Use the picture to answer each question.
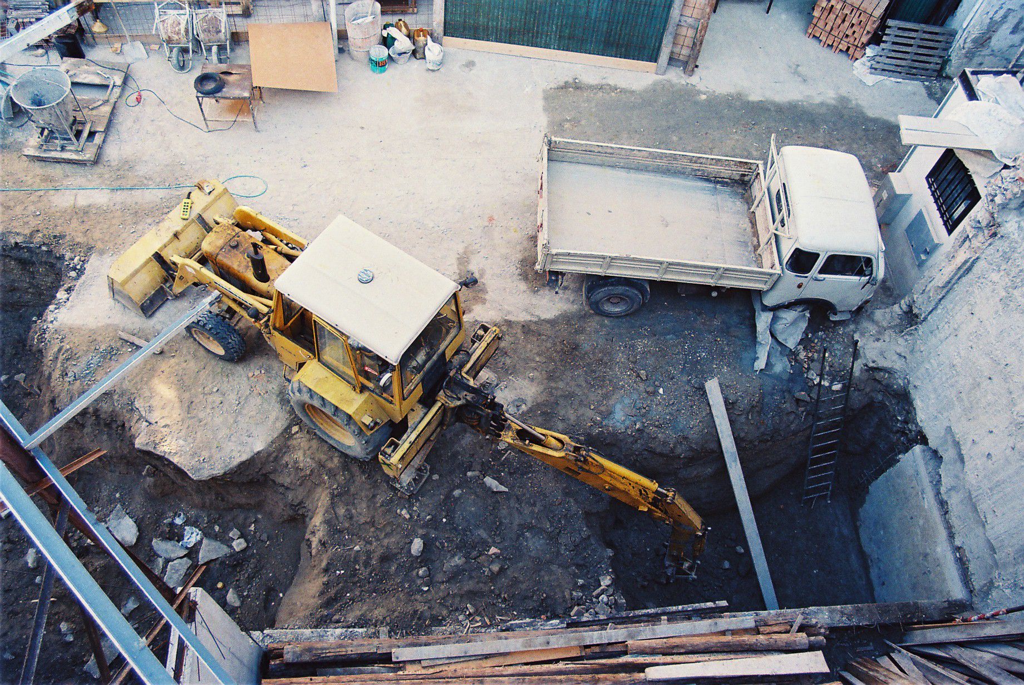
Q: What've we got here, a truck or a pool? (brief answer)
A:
truck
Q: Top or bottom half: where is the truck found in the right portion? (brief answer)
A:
top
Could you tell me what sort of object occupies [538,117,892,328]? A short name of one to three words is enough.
truck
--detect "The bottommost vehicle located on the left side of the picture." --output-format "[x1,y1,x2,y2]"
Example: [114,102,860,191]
[101,179,707,607]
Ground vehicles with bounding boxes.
[538,117,892,328]
[101,179,707,607]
